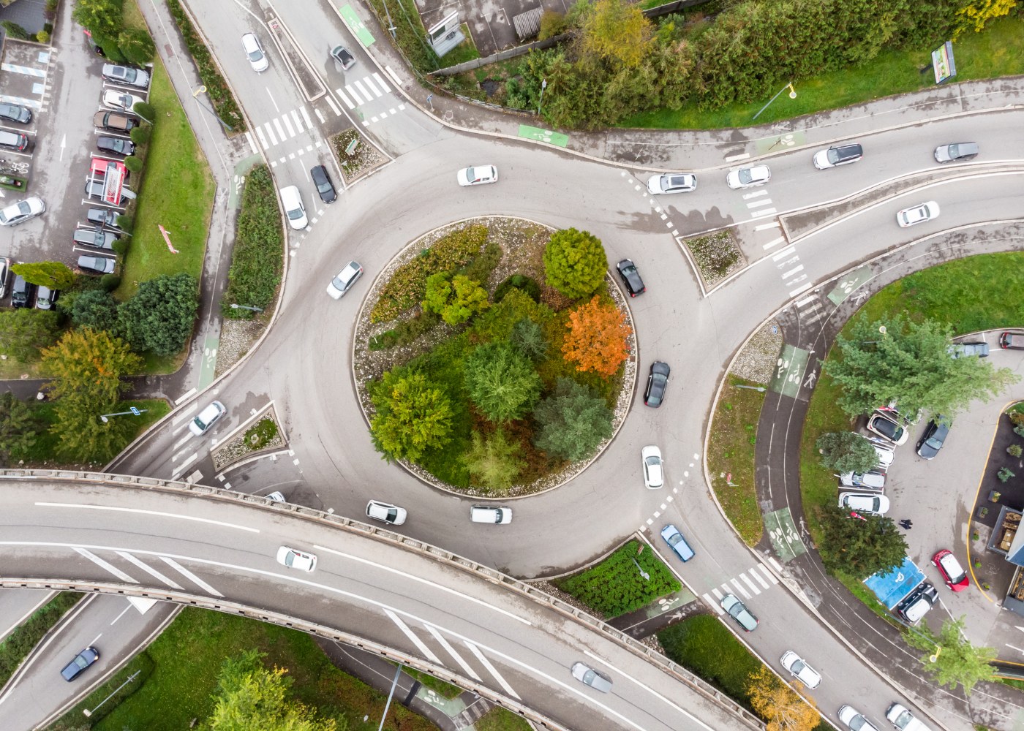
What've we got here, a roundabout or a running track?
roundabout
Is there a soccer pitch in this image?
No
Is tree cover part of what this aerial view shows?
Yes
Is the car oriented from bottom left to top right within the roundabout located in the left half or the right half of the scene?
left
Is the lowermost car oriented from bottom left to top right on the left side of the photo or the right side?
left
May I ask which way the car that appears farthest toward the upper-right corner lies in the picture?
from left to right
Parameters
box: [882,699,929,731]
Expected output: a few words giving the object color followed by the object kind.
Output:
white van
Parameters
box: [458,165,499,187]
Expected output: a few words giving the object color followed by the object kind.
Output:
white car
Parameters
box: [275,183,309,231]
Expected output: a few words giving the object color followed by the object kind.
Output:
white van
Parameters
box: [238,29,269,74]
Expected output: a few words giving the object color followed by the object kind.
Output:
white car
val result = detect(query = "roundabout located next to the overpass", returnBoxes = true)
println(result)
[218,146,705,568]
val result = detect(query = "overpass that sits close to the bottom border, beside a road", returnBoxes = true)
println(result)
[0,468,777,731]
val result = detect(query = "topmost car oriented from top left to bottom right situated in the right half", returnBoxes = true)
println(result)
[615,258,647,298]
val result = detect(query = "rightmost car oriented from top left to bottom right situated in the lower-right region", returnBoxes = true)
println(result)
[931,547,970,594]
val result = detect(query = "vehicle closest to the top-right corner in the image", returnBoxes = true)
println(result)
[931,140,981,164]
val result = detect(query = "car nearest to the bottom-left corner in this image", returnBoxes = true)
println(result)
[57,644,101,686]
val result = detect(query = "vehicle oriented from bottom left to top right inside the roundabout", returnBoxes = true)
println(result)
[324,257,367,300]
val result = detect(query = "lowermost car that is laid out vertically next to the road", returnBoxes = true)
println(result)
[641,445,663,490]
